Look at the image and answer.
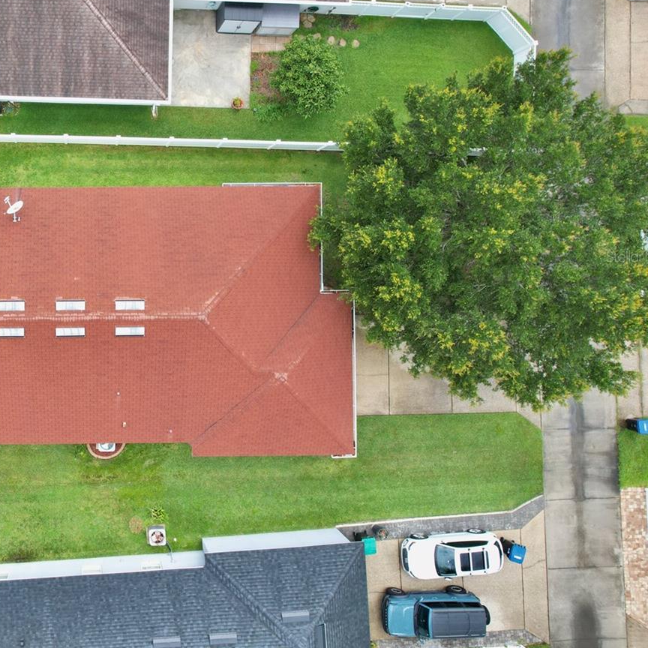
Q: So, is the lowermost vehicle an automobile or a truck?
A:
automobile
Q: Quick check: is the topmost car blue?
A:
No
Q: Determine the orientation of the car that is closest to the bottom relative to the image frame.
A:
horizontally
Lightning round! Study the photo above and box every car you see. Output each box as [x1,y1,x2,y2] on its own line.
[378,587,492,642]
[398,530,505,585]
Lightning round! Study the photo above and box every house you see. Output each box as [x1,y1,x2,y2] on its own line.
[0,0,354,108]
[0,531,370,648]
[0,184,357,459]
